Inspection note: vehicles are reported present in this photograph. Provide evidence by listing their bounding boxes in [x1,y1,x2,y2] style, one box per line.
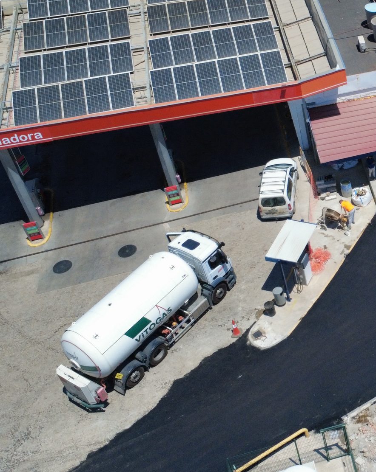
[54,231,237,417]
[256,159,298,214]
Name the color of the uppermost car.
white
